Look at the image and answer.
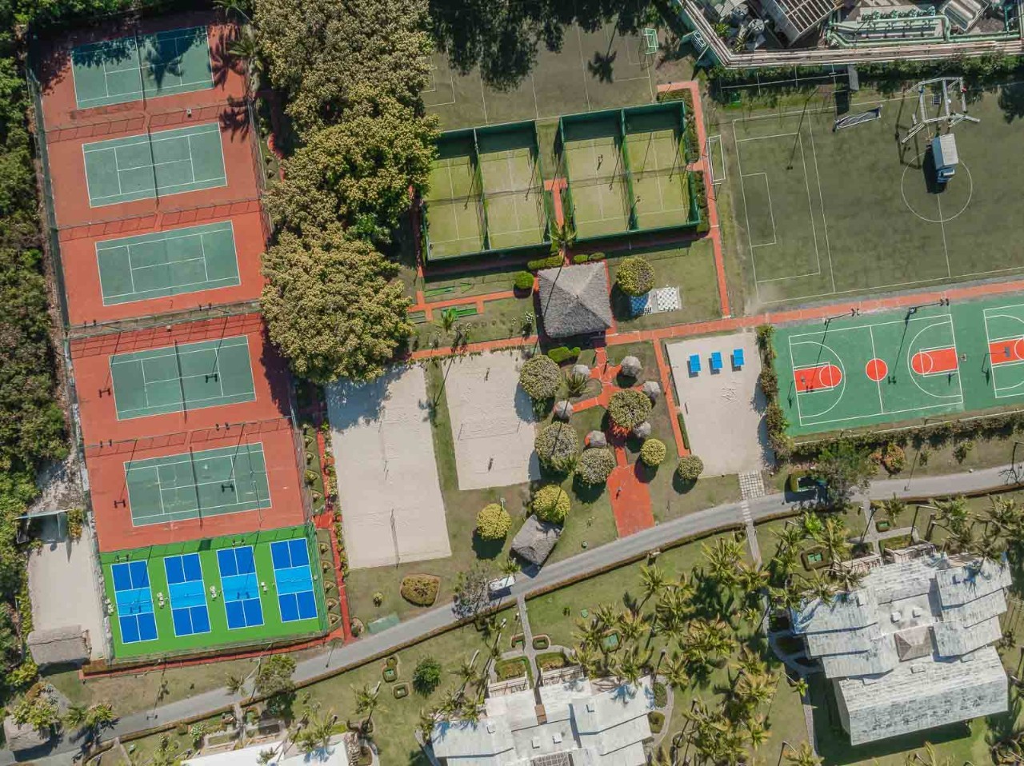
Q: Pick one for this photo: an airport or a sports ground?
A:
sports ground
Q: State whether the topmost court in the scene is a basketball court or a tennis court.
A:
tennis court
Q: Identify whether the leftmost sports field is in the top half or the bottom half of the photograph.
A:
top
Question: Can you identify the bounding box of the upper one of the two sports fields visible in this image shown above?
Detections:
[404,0,694,137]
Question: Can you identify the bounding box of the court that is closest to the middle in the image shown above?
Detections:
[443,350,541,490]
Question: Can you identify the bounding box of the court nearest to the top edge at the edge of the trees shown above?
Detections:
[30,12,253,131]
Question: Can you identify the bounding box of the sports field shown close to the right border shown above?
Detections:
[720,68,1024,314]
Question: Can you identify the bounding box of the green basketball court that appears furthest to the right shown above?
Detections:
[967,296,1024,410]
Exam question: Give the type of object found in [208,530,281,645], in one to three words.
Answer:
sports court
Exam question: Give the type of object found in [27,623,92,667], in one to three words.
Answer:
shed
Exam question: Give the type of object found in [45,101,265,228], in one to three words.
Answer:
tennis court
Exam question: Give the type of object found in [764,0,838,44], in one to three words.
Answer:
house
